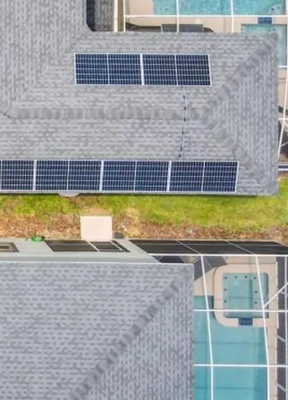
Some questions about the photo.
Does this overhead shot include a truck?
No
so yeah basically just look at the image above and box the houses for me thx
[0,0,278,195]
[0,236,196,400]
